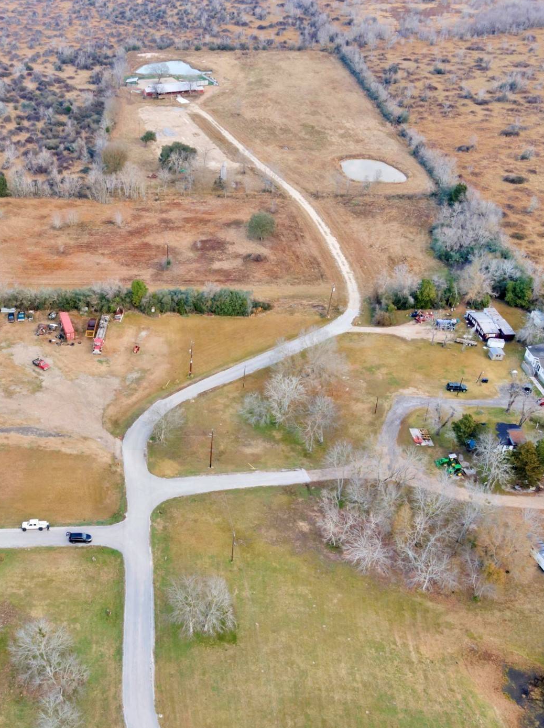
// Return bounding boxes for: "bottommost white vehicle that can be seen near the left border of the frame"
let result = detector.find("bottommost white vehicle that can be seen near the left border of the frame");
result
[21,520,49,532]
